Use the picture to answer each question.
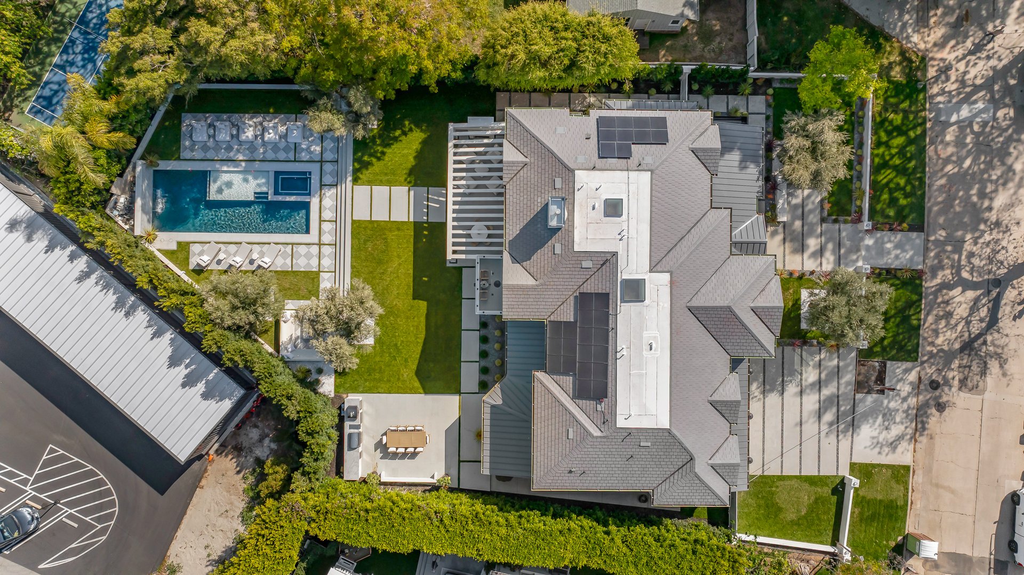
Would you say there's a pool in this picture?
Yes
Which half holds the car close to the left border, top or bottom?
bottom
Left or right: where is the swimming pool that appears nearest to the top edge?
left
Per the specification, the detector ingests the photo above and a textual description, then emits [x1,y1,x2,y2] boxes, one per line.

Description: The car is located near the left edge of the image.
[0,506,38,556]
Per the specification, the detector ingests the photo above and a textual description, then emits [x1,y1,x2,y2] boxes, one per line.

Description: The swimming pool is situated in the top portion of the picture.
[133,160,321,249]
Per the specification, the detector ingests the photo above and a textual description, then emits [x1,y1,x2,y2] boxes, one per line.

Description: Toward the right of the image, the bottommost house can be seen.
[477,97,784,508]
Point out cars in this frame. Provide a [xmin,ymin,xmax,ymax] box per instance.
[0,506,38,556]
[1010,490,1024,568]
